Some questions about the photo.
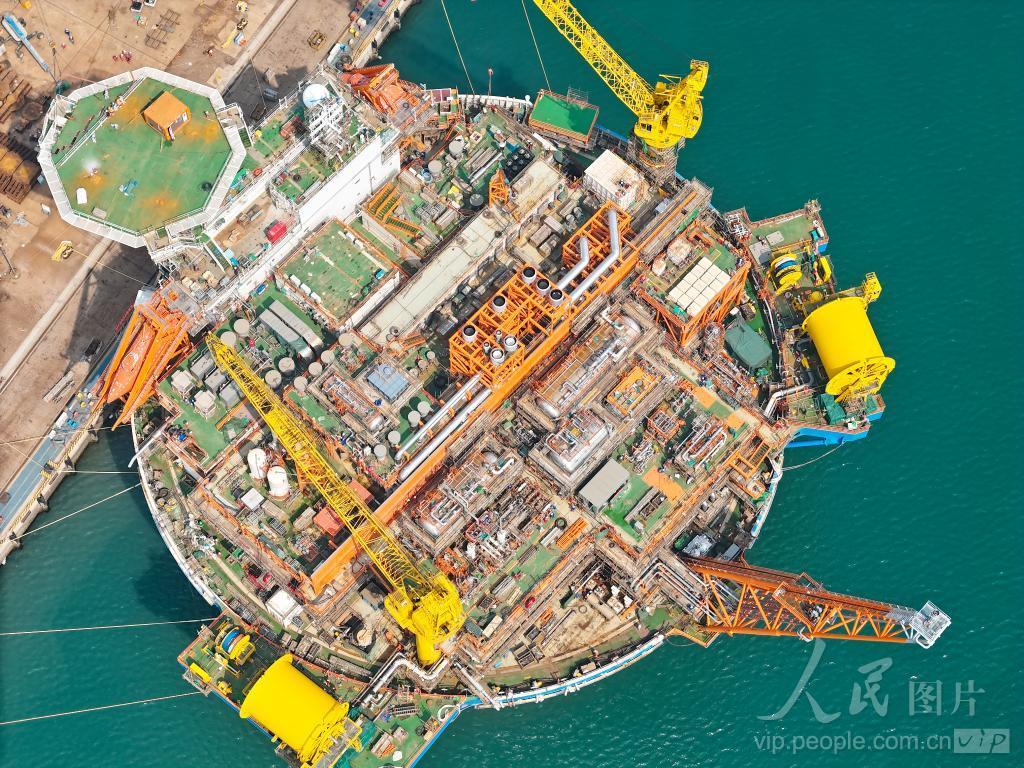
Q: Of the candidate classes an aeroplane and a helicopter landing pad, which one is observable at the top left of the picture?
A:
helicopter landing pad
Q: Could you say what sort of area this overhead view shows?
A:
port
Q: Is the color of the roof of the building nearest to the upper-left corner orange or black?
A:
orange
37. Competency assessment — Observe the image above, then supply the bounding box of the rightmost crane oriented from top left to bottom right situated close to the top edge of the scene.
[534,0,712,203]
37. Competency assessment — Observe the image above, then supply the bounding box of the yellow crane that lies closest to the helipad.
[200,321,467,644]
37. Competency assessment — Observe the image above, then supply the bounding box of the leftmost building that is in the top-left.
[140,91,190,144]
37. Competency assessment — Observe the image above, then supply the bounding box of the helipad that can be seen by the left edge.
[35,65,257,264]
